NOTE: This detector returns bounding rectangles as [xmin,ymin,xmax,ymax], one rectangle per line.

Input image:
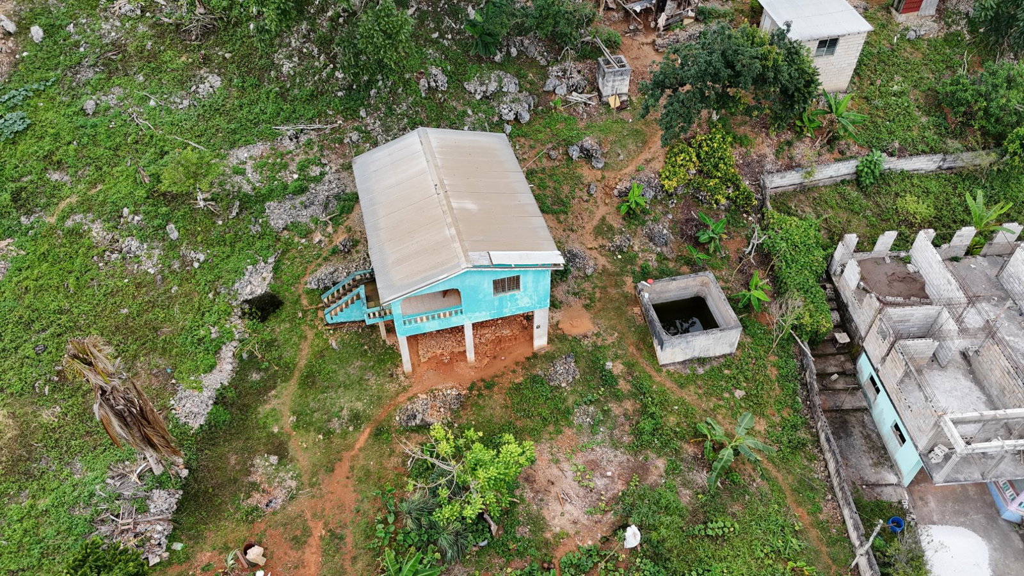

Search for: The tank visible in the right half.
[635,272,741,369]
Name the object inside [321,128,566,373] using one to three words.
house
